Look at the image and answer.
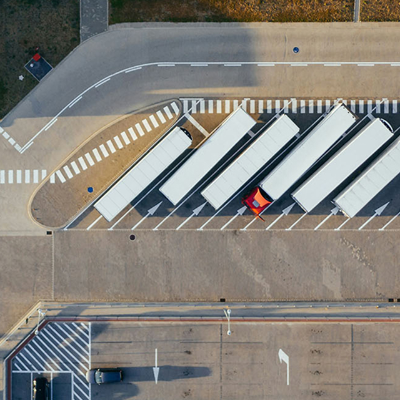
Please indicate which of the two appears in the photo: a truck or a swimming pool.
truck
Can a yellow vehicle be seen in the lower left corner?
No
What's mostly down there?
paved ground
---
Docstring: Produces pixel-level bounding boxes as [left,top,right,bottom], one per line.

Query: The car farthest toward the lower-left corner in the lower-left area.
[31,378,49,400]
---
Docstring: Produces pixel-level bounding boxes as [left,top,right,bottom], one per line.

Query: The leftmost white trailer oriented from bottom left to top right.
[92,126,192,223]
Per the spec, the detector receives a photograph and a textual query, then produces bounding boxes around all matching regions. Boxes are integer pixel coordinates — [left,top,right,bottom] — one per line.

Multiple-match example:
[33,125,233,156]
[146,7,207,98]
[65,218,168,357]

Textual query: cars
[86,366,123,386]
[31,378,49,400]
